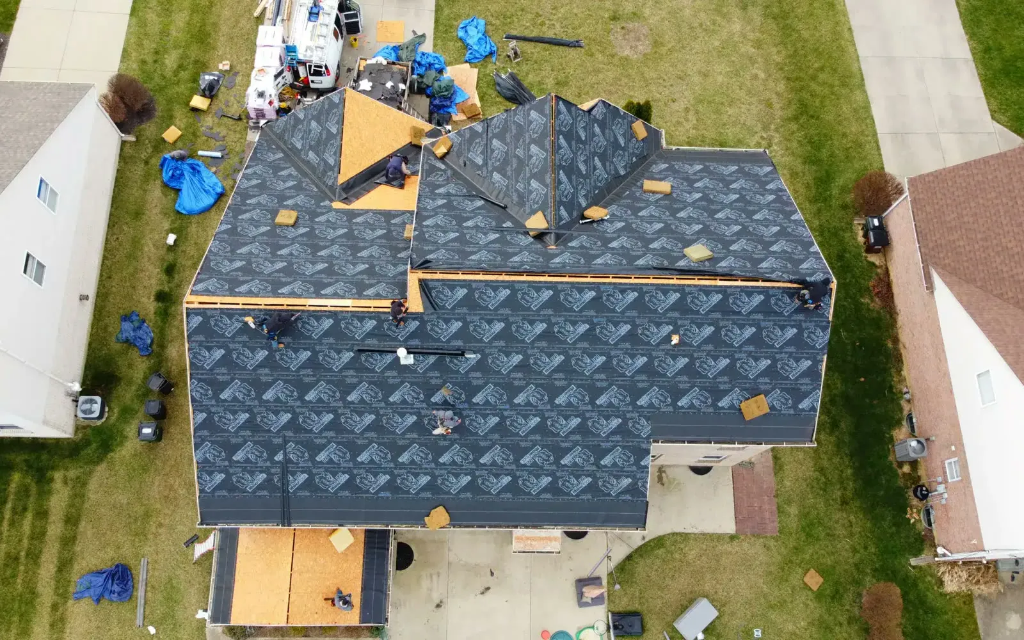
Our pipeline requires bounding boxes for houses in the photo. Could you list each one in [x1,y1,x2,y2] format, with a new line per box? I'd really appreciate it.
[883,144,1024,558]
[0,82,125,440]
[185,89,835,553]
